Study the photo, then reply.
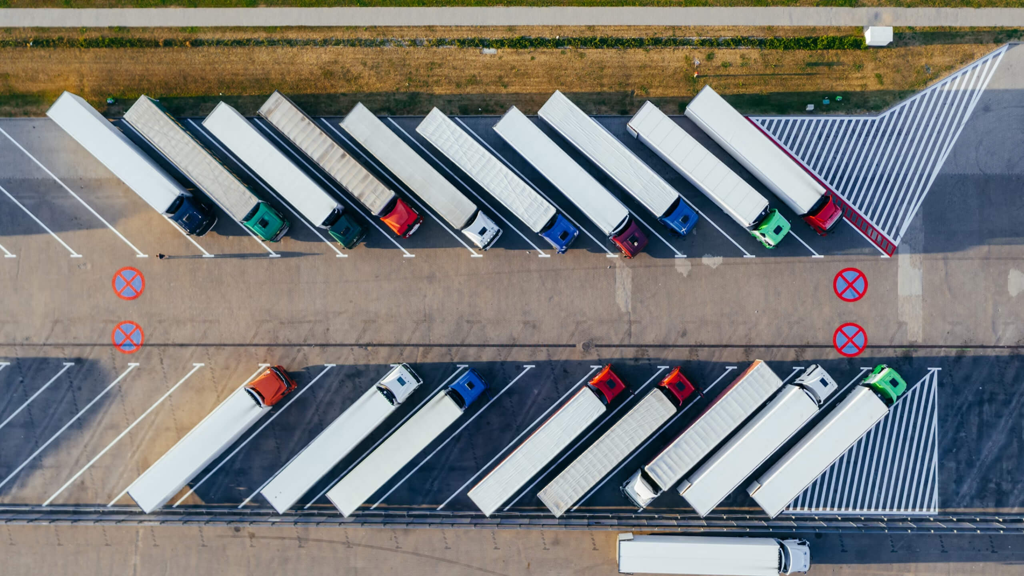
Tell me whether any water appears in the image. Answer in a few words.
No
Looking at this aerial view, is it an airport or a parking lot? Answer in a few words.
parking lot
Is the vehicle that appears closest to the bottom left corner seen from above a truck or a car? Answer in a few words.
truck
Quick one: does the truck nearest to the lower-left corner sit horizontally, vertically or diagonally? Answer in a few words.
diagonally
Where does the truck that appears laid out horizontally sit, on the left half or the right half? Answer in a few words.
right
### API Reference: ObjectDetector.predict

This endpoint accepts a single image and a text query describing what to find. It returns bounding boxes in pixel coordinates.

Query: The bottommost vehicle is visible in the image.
[619,532,811,575]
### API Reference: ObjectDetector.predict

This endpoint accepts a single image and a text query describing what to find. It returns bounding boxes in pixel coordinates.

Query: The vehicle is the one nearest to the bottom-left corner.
[127,362,300,513]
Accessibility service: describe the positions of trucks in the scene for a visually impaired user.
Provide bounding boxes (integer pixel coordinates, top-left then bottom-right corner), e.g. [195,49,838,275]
[619,532,811,575]
[202,101,370,251]
[127,362,300,513]
[468,361,632,516]
[493,106,655,260]
[257,90,425,241]
[123,94,295,247]
[627,100,793,250]
[339,102,507,255]
[46,91,220,239]
[261,359,426,514]
[537,363,701,517]
[327,365,493,517]
[678,361,842,517]
[416,107,584,258]
[538,90,704,242]
[618,359,783,510]
[746,363,911,518]
[685,85,849,239]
